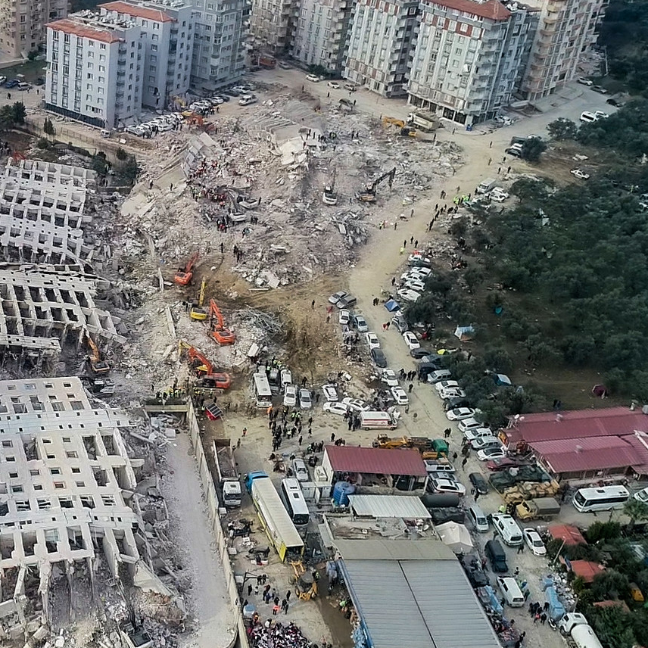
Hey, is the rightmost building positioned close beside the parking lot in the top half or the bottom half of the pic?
top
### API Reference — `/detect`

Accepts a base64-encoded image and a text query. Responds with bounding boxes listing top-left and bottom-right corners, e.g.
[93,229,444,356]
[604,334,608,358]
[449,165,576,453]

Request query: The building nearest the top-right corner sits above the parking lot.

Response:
[511,0,611,92]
